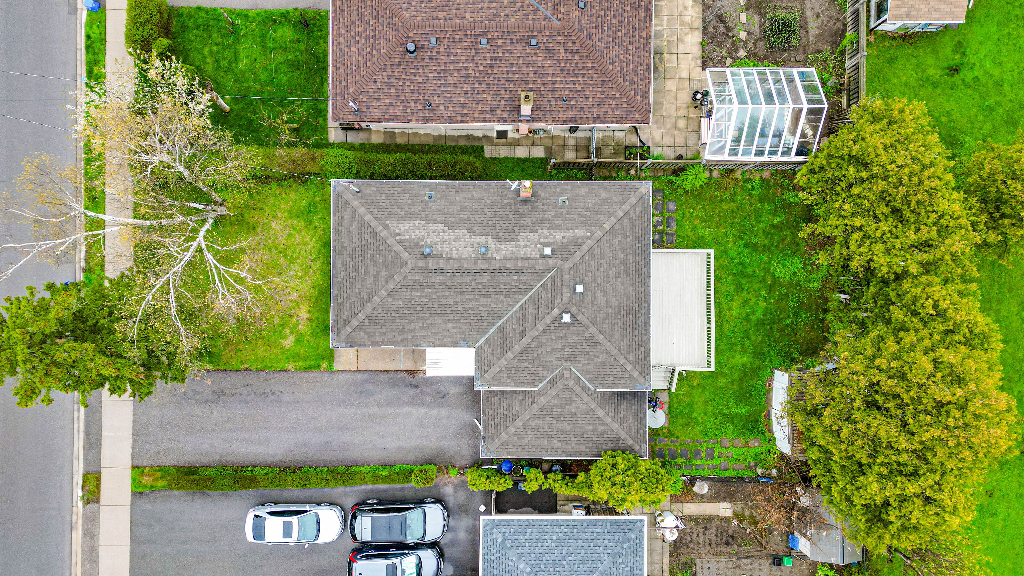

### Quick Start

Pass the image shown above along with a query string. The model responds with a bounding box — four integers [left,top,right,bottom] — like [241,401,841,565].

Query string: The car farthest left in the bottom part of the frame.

[245,500,346,551]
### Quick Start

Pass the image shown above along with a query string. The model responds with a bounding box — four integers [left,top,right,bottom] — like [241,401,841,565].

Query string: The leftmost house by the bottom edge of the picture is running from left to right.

[481,506,648,576]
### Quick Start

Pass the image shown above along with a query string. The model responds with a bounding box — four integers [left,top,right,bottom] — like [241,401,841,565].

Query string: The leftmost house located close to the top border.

[331,0,653,130]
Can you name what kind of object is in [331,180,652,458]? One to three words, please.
house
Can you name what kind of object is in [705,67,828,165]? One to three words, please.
greenhouse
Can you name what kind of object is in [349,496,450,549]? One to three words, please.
car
